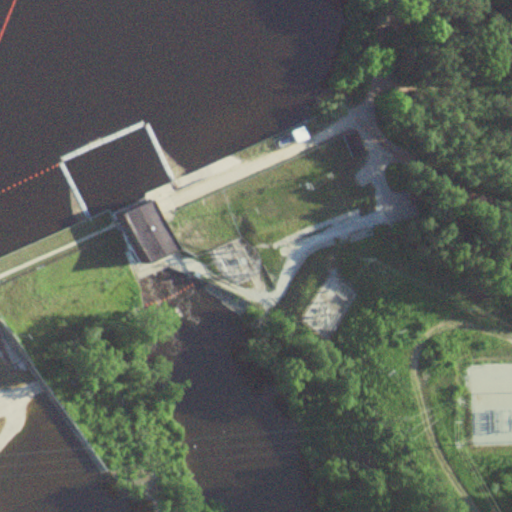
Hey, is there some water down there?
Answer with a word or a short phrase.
Yes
